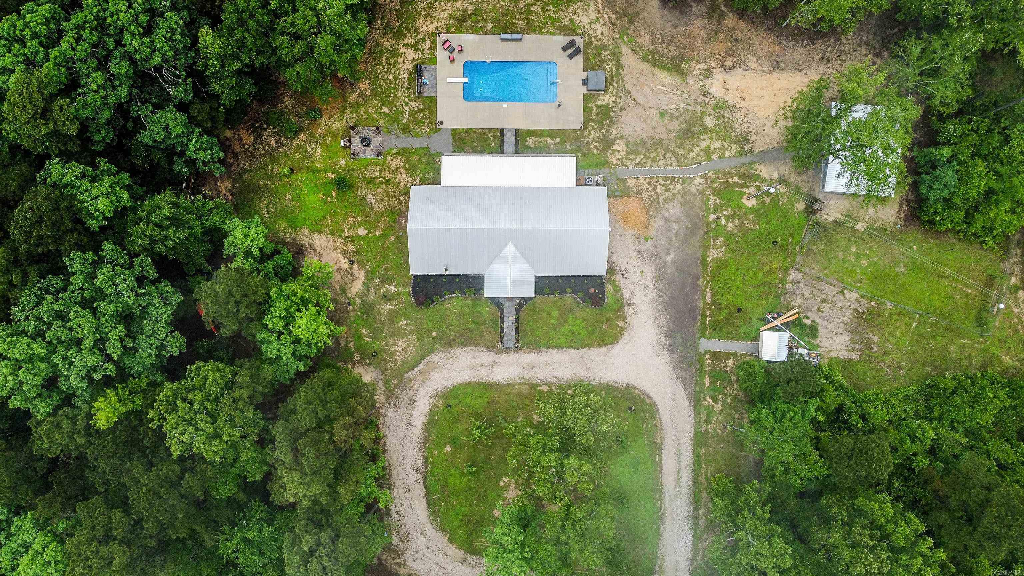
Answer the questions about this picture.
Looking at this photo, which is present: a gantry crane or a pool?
pool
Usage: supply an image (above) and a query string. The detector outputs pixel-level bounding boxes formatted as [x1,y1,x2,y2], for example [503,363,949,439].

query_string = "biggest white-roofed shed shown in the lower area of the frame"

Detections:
[756,331,789,361]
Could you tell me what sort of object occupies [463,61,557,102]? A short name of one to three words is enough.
swimming pool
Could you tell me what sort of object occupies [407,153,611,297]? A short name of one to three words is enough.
house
